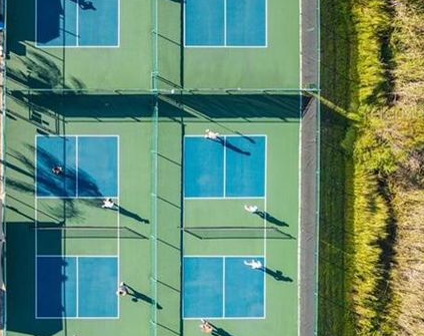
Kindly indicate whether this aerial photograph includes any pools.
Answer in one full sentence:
No, no pool is visible in the scene.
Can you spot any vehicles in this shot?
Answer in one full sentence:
No, no vehicle is visible in the scene.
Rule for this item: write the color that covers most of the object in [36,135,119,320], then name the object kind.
blue sports court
